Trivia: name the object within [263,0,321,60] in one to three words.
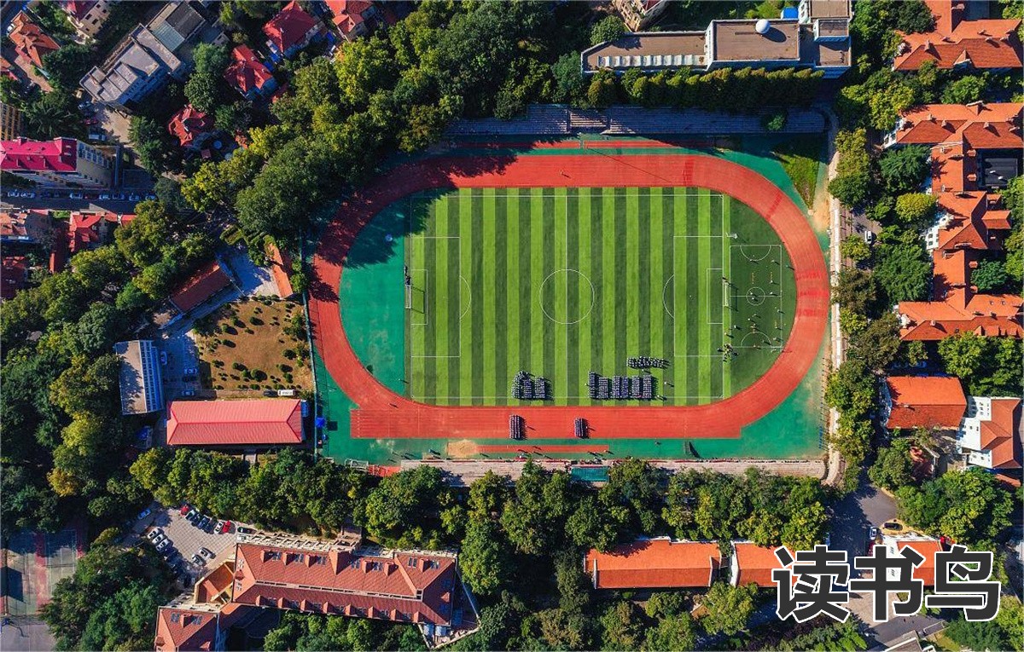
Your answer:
house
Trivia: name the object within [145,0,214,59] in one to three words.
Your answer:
building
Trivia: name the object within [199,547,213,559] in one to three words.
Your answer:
vehicle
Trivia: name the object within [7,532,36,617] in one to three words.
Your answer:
tennis court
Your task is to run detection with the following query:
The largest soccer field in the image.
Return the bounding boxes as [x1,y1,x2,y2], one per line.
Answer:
[404,188,795,406]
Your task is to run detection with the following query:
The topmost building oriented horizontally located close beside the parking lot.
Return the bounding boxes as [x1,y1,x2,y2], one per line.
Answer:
[167,399,304,447]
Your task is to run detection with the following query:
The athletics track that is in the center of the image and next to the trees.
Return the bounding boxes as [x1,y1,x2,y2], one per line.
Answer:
[307,154,828,440]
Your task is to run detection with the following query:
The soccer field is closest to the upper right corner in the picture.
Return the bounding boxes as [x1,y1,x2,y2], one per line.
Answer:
[729,245,781,347]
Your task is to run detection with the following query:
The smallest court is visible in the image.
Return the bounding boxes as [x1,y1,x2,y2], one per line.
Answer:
[20,554,38,610]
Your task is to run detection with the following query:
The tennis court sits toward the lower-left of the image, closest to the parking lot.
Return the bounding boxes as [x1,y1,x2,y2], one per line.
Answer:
[46,529,77,596]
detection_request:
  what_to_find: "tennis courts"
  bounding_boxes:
[46,529,77,596]
[20,554,38,610]
[7,532,36,617]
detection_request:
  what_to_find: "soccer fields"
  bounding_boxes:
[404,188,795,406]
[729,245,781,347]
